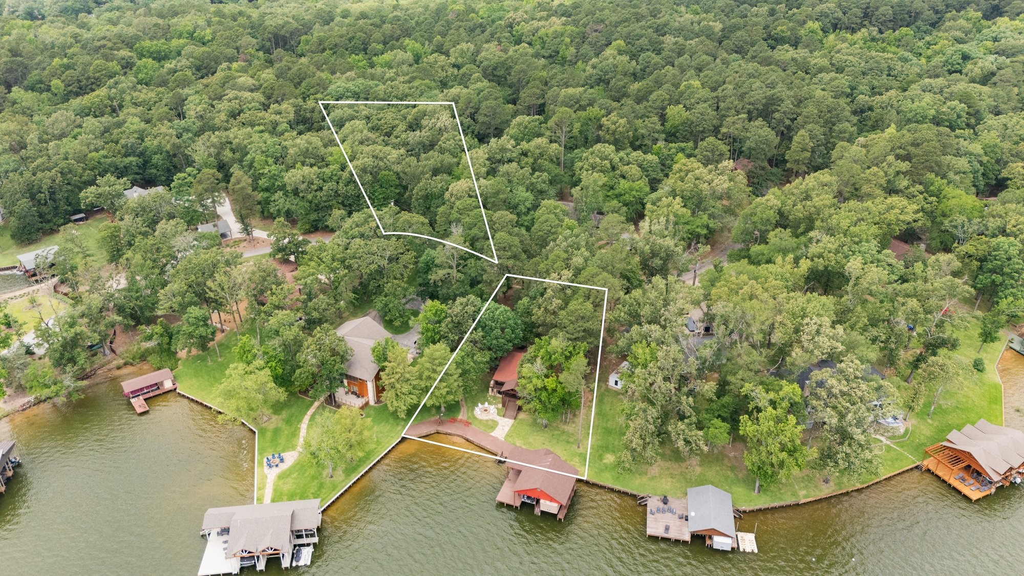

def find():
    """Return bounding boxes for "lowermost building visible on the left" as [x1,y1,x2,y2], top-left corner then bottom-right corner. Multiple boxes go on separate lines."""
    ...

[197,499,327,576]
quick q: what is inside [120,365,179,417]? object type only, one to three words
building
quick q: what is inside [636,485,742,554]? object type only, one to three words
building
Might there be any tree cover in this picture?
Yes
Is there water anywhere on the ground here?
Yes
